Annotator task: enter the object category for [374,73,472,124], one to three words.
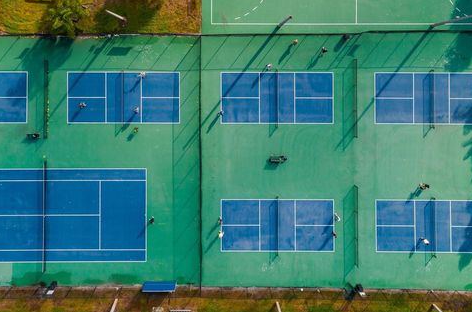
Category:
sports court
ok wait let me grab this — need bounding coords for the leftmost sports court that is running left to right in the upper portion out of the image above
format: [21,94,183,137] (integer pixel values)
[67,71,180,123]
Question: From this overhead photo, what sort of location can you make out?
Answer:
sports ground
